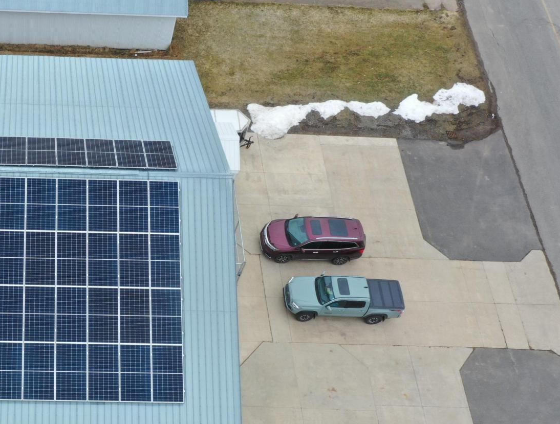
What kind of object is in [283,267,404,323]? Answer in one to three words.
truck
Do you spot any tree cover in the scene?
No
